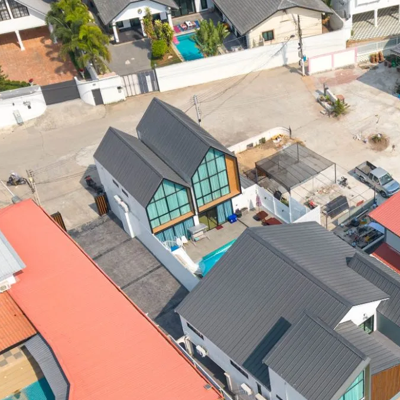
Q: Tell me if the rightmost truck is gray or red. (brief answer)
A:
gray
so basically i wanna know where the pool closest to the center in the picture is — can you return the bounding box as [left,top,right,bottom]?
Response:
[195,219,264,280]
